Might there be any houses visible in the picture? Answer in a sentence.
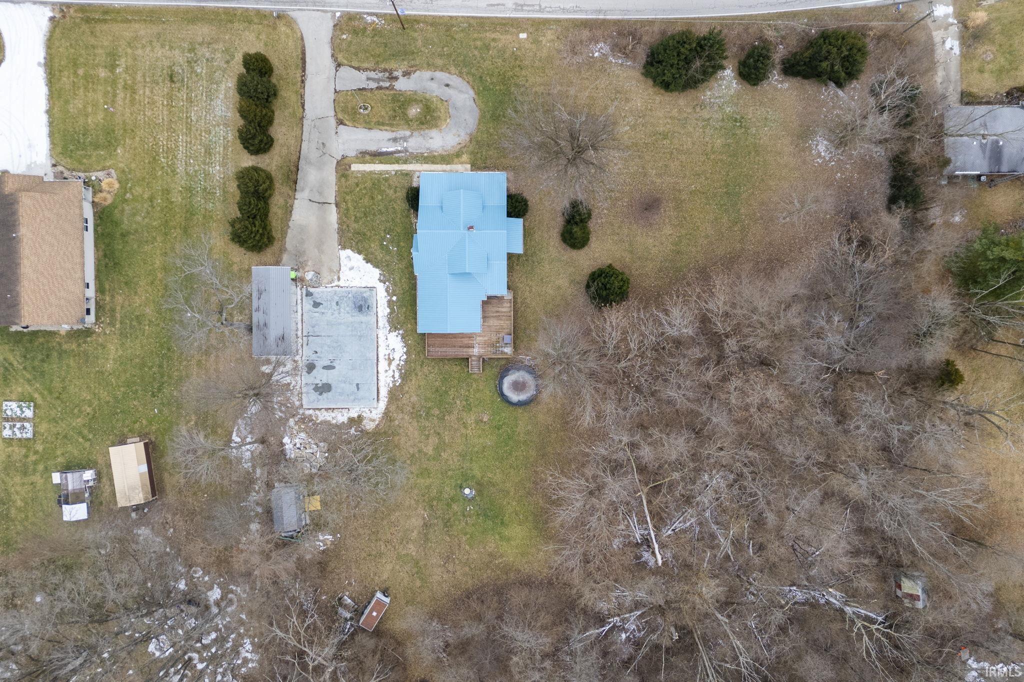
Yes, looking at the shot, I can spot a house.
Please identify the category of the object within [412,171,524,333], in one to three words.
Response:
house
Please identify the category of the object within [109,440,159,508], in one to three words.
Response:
shed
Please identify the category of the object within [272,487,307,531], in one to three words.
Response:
shed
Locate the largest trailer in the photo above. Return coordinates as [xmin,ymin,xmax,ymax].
[359,584,394,632]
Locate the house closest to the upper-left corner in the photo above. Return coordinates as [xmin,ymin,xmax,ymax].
[0,173,95,325]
